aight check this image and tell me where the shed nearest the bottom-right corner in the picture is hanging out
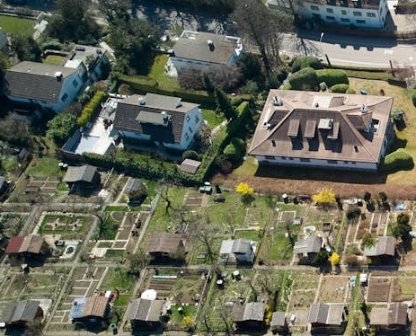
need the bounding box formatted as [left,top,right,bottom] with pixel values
[370,302,410,333]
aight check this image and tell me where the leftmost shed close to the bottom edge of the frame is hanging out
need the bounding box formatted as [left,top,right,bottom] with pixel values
[2,299,52,329]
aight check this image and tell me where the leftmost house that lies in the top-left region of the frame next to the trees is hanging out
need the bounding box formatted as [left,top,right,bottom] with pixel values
[6,46,110,118]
